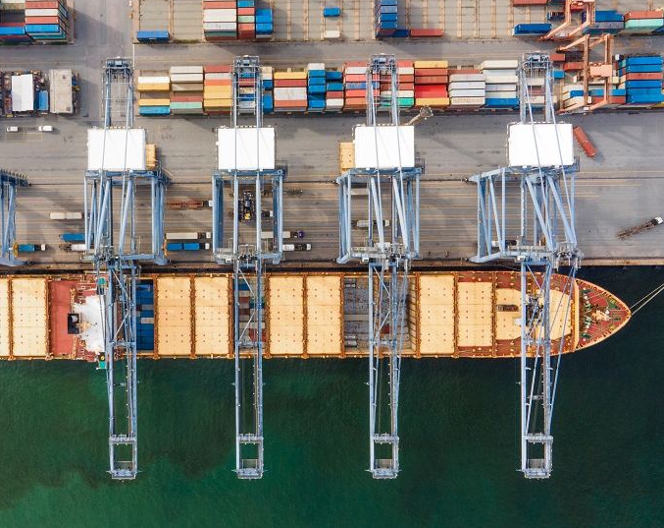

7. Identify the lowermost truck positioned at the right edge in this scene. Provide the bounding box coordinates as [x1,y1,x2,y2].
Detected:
[618,215,664,240]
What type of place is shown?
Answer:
port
